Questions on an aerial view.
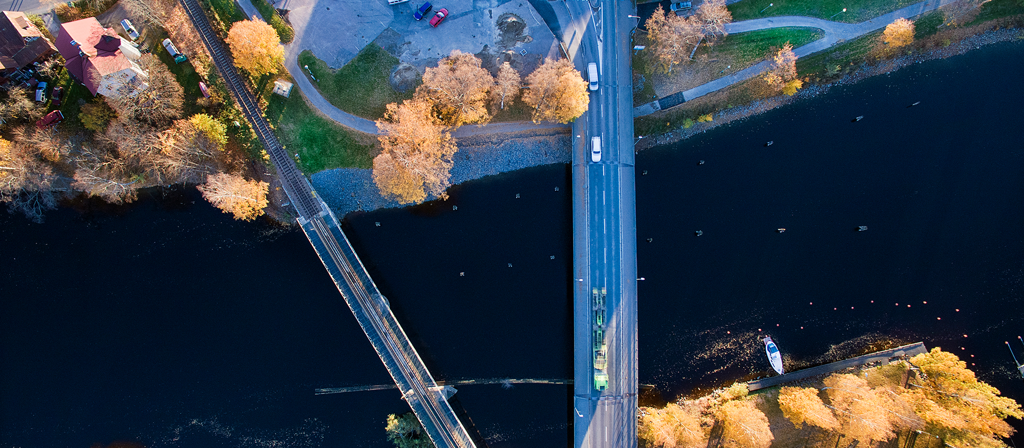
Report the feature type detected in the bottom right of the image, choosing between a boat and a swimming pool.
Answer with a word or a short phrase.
boat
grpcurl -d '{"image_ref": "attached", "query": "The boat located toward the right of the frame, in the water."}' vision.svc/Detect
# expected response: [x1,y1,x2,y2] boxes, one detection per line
[762,335,786,377]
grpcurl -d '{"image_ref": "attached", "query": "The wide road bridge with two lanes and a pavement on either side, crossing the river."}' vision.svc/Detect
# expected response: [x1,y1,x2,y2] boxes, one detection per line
[571,86,639,447]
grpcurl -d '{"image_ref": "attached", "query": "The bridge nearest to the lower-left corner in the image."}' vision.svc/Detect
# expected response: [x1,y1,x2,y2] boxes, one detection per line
[282,178,475,448]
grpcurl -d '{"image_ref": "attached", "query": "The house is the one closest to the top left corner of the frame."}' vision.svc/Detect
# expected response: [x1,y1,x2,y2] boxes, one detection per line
[0,3,69,89]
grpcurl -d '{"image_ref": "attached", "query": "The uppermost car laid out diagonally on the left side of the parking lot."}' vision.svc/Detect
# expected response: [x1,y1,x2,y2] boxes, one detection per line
[120,18,141,41]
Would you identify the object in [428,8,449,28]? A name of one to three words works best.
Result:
car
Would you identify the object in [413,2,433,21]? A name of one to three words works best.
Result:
car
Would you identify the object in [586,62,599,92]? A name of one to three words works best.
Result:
vehicle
